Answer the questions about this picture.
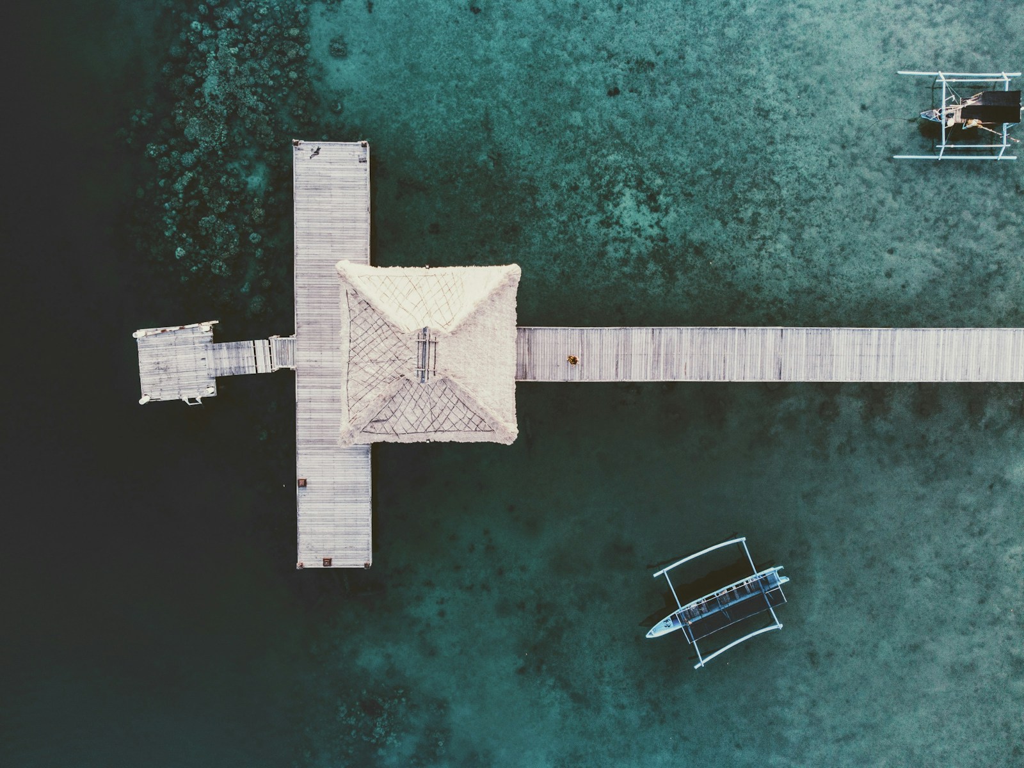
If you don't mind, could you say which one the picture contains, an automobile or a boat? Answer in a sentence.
Looking from above, you can make out a boat.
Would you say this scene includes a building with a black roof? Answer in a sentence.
No, no building with a black roof is visible in the view.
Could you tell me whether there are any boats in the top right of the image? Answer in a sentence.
Yes, looking in the top right of the image, one can make out a boat.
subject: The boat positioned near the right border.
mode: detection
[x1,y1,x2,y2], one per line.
[893,71,1024,160]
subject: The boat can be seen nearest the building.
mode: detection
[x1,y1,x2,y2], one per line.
[643,537,789,669]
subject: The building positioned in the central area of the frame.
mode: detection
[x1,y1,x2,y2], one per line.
[334,258,523,449]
